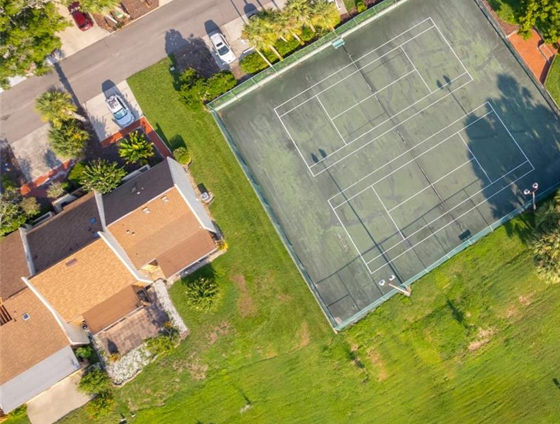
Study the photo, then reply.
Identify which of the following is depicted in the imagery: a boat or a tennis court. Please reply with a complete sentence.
Of the two, only a tennis court appears.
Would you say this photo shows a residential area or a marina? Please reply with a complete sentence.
What you see here is a residential area.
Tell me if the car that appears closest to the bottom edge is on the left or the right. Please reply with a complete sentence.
The car that appears closest to the bottom edge appears in the left half of the scene.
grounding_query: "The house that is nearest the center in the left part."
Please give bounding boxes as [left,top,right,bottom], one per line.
[100,153,230,279]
